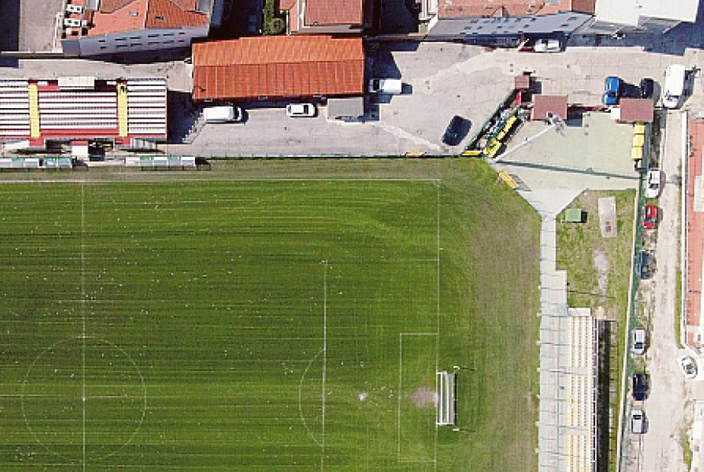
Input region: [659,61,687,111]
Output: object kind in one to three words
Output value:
van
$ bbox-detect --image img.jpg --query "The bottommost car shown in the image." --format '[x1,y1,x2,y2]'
[629,409,646,434]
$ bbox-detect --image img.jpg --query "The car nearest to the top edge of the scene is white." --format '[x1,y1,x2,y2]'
[531,37,563,54]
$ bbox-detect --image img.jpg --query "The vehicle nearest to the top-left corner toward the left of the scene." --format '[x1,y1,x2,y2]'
[201,105,243,124]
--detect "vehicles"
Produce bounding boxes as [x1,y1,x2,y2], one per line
[531,37,563,54]
[643,168,662,198]
[629,329,647,355]
[444,116,468,147]
[631,373,648,400]
[604,74,622,103]
[659,61,687,111]
[636,250,654,279]
[642,203,660,231]
[629,409,646,434]
[201,105,243,124]
[369,77,404,95]
[637,75,655,99]
[286,104,316,118]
